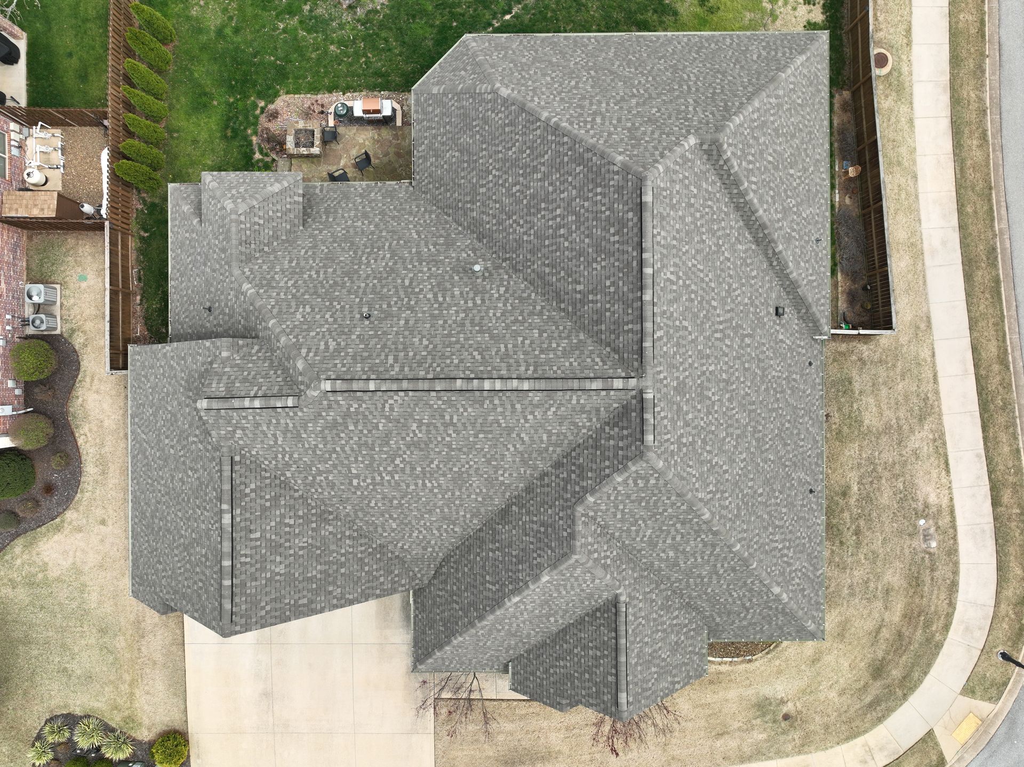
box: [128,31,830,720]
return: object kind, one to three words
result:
house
